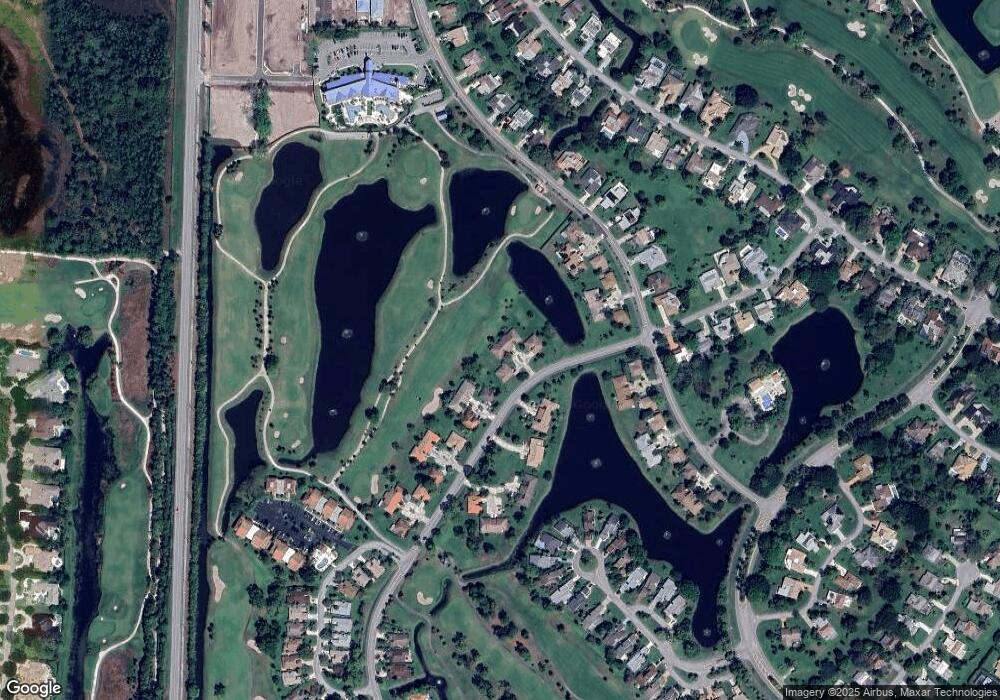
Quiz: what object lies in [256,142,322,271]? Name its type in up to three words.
pond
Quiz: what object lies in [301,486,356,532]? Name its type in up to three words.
building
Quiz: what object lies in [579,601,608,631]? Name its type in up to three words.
house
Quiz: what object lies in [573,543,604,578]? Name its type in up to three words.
roundabout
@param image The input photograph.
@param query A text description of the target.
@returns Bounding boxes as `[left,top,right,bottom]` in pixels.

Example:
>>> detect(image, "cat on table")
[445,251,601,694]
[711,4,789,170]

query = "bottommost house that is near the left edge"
[13,660,54,688]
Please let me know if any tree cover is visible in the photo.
Yes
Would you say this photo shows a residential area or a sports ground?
residential area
